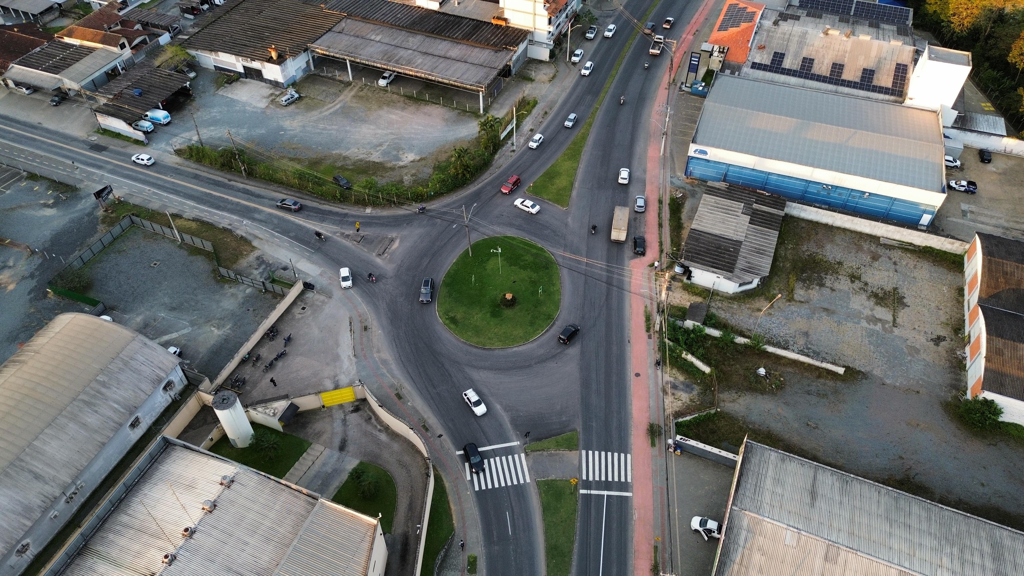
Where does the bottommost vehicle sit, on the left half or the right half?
right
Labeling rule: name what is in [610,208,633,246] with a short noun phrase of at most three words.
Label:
truck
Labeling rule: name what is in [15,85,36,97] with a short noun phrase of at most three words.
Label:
vehicle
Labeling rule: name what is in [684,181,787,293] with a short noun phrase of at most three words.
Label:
house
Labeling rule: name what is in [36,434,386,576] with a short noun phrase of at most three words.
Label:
building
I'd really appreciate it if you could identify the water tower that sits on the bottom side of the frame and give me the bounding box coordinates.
[195,380,253,451]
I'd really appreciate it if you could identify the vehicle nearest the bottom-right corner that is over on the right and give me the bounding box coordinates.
[690,516,718,543]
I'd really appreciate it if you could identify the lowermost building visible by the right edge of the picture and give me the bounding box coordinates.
[703,431,1024,576]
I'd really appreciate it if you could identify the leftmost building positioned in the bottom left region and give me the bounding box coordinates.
[0,313,189,576]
